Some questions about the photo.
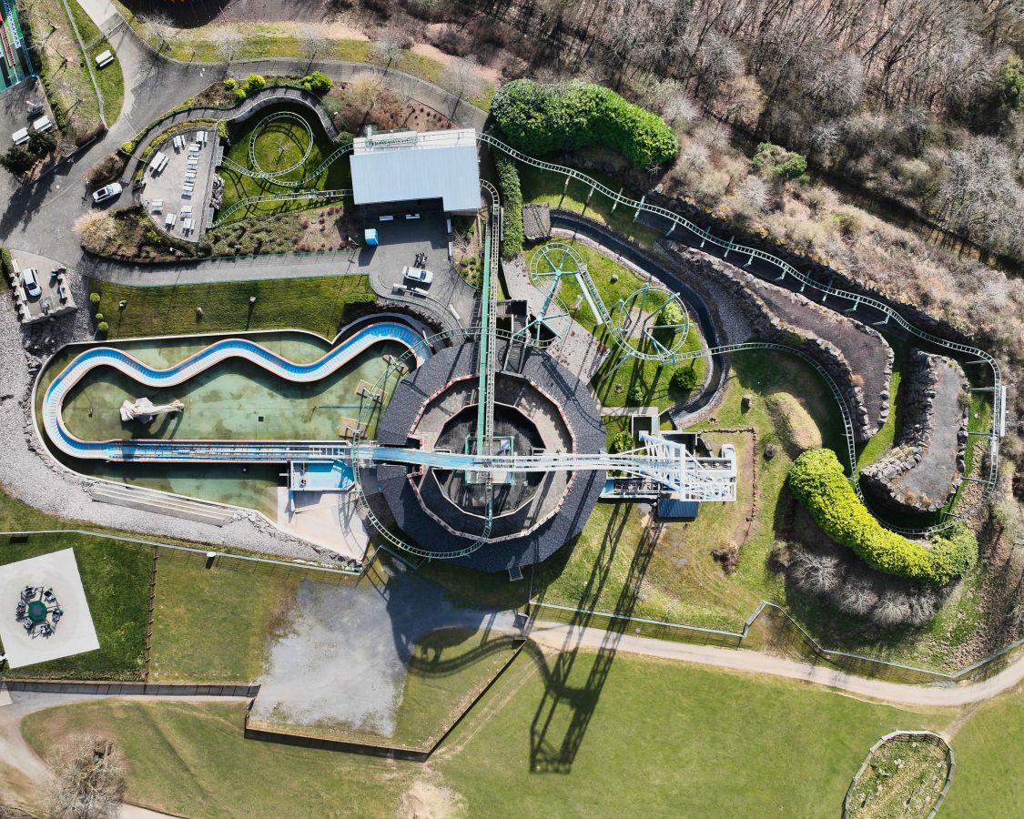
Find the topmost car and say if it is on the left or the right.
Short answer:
left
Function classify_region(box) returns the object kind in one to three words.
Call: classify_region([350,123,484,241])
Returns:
building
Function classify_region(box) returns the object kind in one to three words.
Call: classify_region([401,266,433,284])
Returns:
vehicle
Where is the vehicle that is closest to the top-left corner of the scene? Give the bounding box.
[88,181,122,202]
